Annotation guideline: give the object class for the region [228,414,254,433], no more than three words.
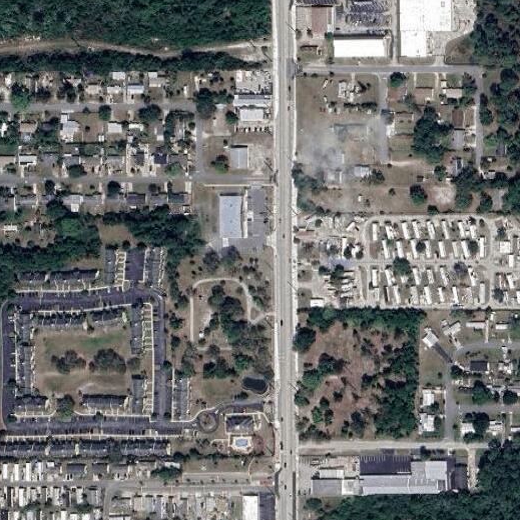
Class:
building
